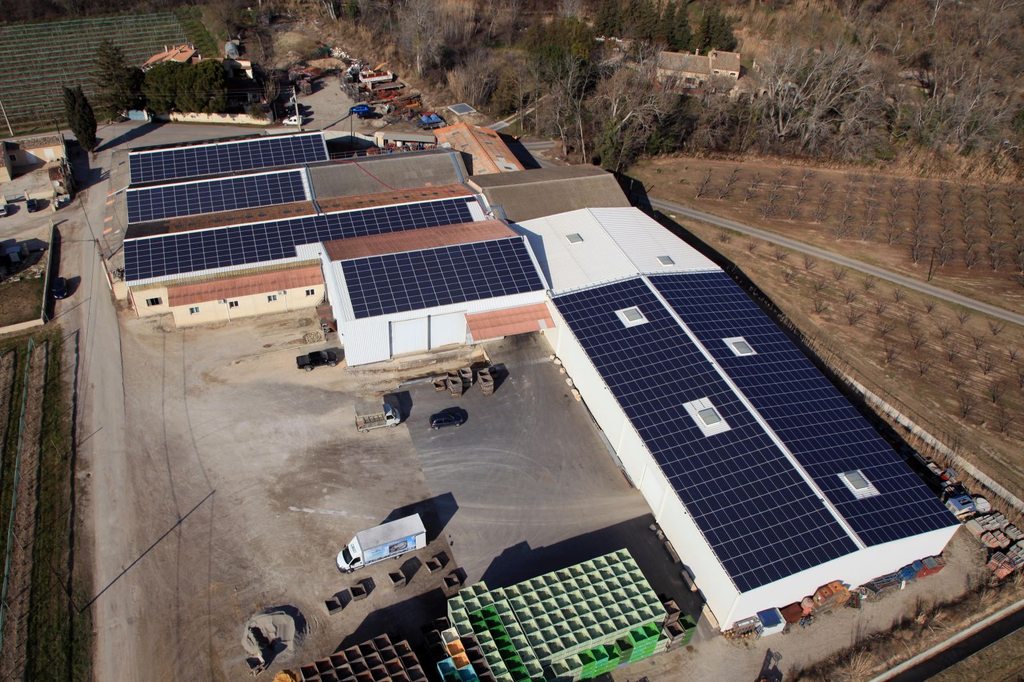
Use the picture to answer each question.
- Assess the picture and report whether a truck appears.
Yes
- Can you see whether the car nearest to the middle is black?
Yes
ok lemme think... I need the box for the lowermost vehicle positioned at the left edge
[49,272,67,297]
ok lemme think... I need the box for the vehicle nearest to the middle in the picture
[428,409,462,429]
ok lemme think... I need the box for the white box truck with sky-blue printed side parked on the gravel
[333,513,421,573]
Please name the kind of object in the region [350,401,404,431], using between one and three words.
truck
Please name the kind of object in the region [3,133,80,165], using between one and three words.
house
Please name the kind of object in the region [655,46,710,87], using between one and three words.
house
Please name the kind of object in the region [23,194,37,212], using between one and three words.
car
